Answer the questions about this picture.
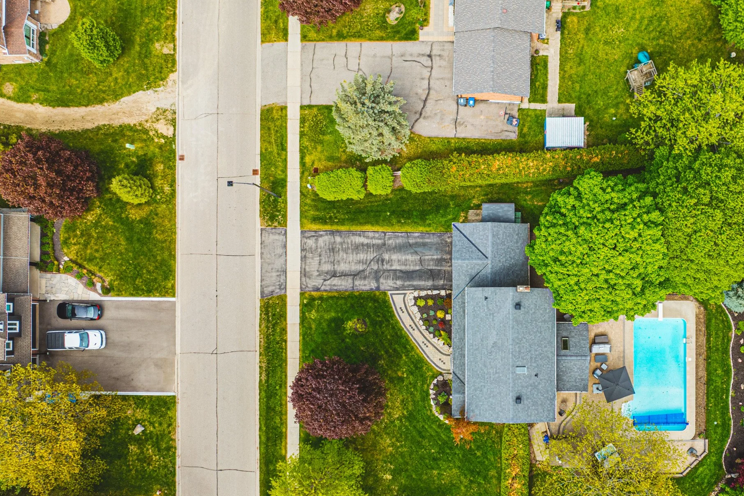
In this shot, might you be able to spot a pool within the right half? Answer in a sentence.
Yes, you'll find a pool within the right half.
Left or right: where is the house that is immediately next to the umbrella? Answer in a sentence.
It is on the right.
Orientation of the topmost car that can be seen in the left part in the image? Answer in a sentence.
Seen from above, the topmost car that can be seen in the left part lies horizontally.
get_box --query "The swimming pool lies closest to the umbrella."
[621,318,687,433]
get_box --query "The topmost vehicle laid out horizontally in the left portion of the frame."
[54,300,99,322]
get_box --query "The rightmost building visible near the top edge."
[450,0,547,105]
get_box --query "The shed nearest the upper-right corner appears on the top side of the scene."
[544,117,584,152]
